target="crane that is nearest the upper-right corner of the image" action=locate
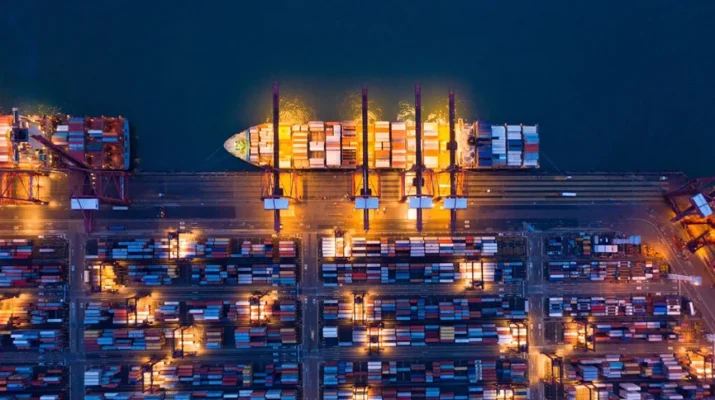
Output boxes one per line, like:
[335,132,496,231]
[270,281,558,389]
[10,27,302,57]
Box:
[654,174,715,223]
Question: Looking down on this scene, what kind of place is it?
port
